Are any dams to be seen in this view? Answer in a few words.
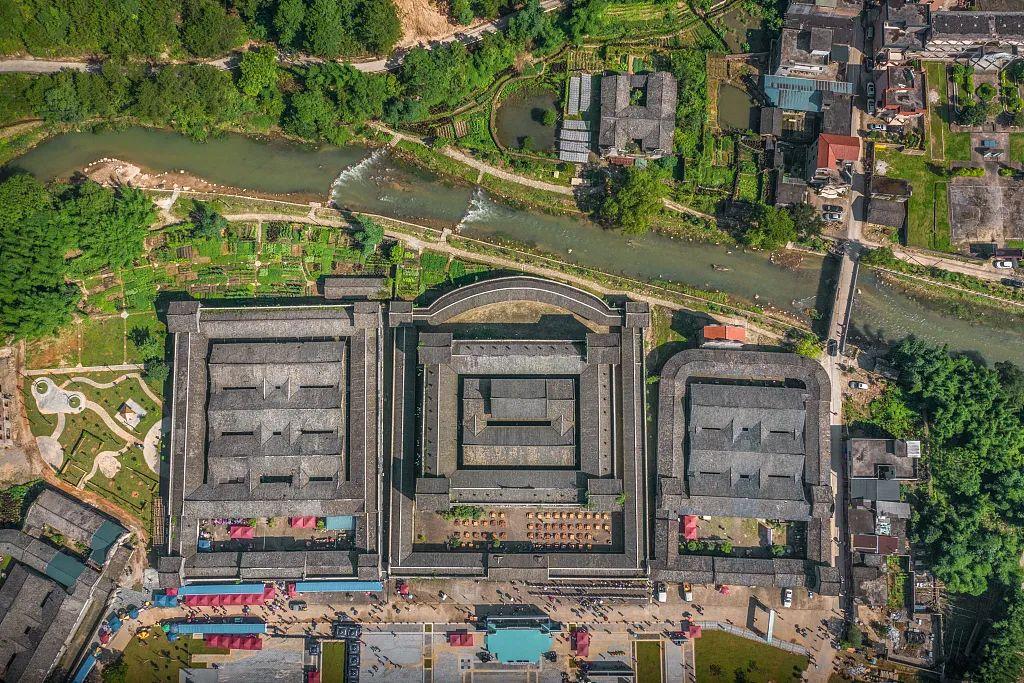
Yes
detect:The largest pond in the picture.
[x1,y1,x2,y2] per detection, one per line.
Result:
[496,91,557,151]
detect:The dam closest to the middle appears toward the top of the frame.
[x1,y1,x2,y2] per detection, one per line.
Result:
[455,186,495,237]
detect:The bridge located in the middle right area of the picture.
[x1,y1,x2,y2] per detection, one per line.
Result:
[829,246,860,347]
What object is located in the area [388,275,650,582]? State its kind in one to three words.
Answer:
building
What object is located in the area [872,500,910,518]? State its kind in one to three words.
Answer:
shed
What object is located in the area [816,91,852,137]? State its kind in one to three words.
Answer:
house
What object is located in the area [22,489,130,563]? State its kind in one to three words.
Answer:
house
